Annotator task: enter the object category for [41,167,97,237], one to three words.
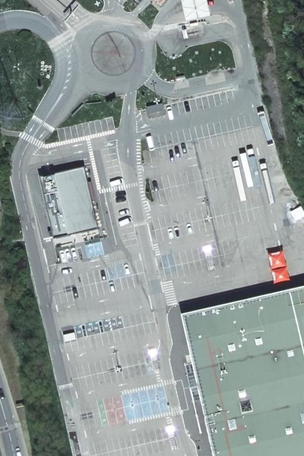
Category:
building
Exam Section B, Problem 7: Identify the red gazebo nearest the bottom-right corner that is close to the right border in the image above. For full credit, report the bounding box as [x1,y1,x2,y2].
[272,266,290,283]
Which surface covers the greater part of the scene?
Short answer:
paved ground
